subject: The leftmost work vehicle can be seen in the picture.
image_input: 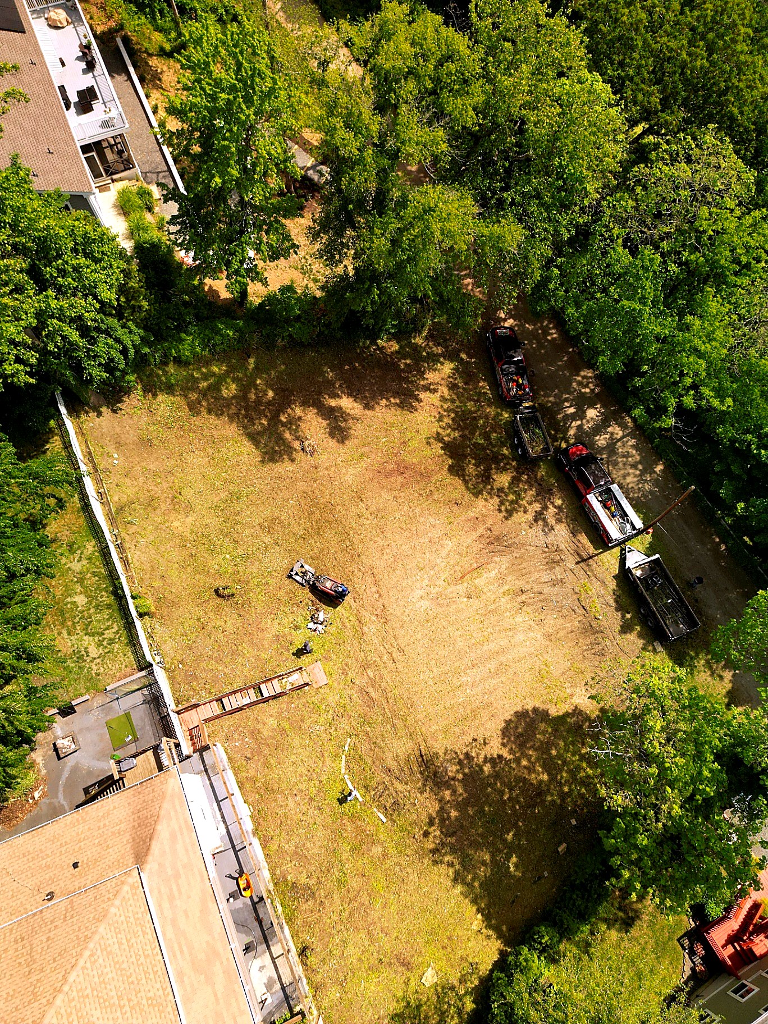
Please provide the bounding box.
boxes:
[284,558,352,607]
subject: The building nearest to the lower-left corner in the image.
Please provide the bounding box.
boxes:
[0,764,270,1024]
